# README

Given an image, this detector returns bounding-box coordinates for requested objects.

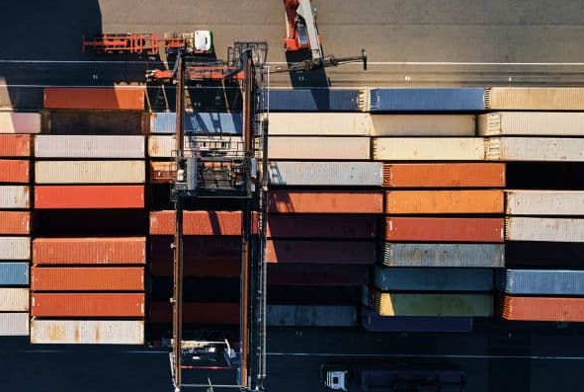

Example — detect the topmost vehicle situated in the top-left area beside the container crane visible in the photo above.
[83,28,216,55]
